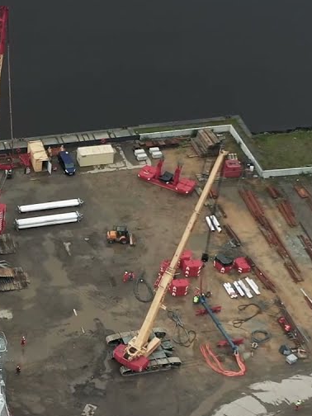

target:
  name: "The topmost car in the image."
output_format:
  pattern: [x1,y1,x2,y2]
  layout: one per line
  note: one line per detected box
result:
[60,153,76,171]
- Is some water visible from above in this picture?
Yes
